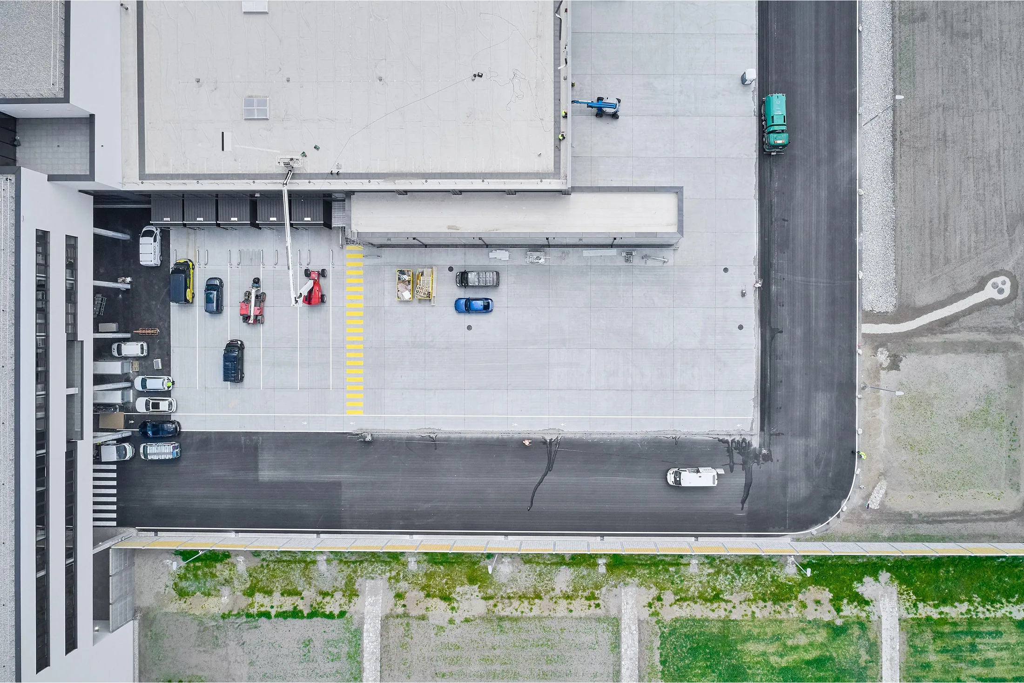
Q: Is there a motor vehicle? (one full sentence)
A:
Yes, there is a motor vehicle in the image.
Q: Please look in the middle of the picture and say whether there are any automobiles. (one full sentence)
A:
Yes, an automobile appears in the middle of the picture.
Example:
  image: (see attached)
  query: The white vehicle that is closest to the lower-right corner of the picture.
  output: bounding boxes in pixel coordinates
[666,467,725,488]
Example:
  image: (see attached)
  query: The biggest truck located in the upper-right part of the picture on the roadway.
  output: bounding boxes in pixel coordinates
[759,94,787,157]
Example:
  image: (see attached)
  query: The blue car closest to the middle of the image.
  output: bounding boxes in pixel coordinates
[455,296,494,315]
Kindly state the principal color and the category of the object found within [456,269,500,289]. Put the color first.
gray vehicle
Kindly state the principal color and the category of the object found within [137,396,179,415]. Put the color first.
white car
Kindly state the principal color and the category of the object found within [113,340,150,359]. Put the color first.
white car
